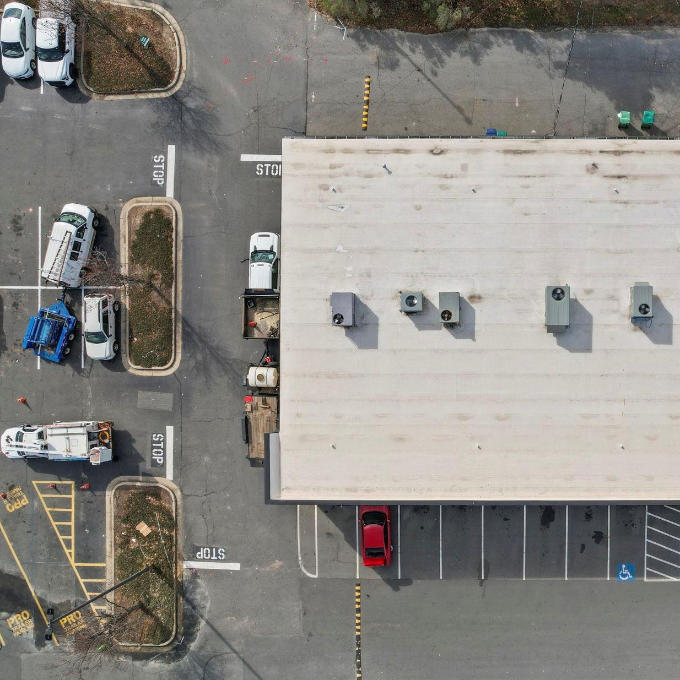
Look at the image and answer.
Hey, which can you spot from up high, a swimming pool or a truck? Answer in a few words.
truck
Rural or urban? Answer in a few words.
urban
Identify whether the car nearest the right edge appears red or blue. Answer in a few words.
red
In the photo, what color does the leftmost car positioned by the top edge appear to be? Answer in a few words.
white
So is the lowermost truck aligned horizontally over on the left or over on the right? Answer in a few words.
left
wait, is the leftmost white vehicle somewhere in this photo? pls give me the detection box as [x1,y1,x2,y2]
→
[0,6,36,79]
